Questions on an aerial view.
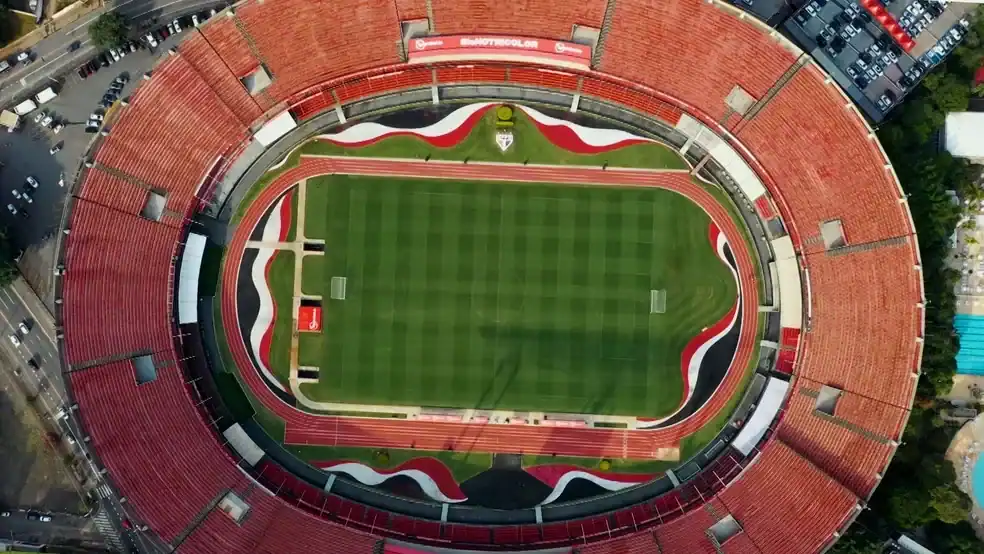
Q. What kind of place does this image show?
sports ground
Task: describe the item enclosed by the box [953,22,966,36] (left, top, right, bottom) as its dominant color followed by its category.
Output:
black vehicle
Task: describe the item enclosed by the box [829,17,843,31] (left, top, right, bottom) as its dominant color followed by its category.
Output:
black vehicle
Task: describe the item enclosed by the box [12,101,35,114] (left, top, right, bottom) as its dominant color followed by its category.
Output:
white vehicle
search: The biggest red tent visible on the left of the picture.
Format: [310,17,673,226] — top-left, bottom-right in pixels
[298,305,324,331]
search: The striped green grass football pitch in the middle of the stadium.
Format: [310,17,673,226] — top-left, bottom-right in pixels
[236,174,742,428]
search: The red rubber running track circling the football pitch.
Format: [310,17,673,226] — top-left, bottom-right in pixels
[221,153,758,462]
